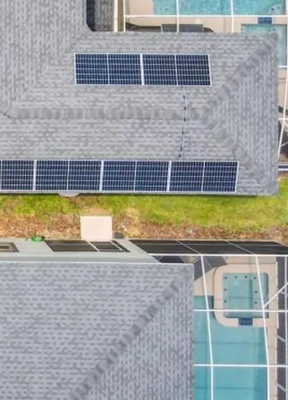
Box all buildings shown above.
[0,0,278,195]
[0,236,196,400]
